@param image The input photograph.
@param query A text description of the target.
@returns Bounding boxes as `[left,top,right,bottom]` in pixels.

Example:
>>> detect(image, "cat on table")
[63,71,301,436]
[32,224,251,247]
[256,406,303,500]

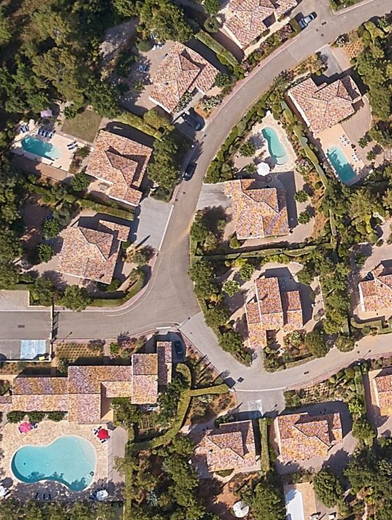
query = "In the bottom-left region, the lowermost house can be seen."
[0,340,173,422]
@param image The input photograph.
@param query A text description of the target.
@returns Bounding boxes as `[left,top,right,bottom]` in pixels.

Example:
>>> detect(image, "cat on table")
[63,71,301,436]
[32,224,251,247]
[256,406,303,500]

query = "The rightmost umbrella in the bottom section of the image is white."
[232,500,249,517]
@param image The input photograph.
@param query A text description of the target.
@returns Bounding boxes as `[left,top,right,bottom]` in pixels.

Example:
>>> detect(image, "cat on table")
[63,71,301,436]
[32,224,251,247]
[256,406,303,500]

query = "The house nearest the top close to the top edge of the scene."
[220,0,300,42]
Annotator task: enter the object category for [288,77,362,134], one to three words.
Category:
house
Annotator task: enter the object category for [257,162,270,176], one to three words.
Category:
umbrella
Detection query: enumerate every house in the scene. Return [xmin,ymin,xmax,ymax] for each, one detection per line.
[227,181,290,239]
[357,268,392,311]
[246,280,303,347]
[0,340,173,422]
[288,77,362,134]
[85,130,153,207]
[58,223,124,285]
[277,412,340,463]
[203,419,257,471]
[220,0,300,42]
[374,371,392,414]
[149,42,219,103]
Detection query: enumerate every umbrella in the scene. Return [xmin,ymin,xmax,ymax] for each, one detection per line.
[95,488,108,501]
[0,483,7,497]
[96,427,109,439]
[257,162,270,176]
[18,419,32,433]
[232,500,249,517]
